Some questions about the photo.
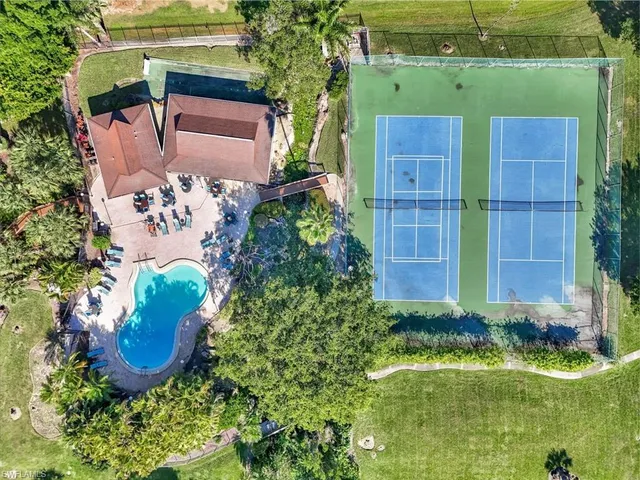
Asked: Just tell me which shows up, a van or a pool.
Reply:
pool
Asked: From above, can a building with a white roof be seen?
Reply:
No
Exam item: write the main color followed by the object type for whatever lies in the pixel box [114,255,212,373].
blue swimming pool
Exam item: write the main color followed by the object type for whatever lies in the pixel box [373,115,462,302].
blue tennis court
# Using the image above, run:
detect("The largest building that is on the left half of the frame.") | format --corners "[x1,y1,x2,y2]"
[164,92,278,184]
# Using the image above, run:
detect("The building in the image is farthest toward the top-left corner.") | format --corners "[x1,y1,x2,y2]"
[89,102,170,199]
